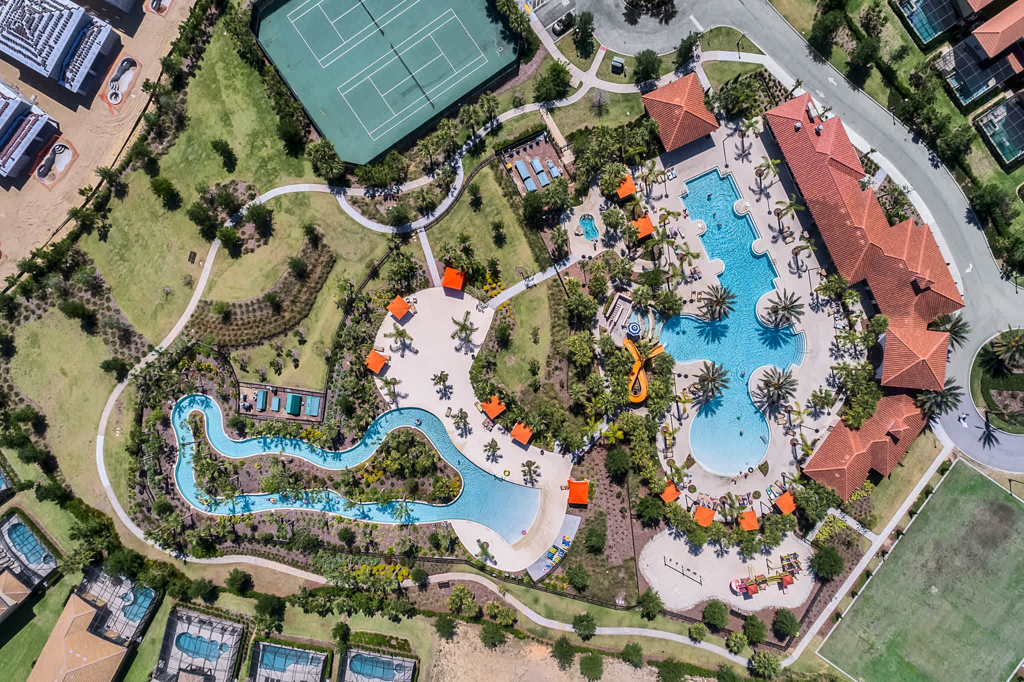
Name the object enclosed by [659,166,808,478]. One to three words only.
swimming pool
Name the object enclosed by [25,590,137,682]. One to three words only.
house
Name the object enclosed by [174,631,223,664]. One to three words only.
swimming pool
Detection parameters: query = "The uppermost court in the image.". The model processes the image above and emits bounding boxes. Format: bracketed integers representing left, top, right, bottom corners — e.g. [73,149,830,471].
[258,0,519,164]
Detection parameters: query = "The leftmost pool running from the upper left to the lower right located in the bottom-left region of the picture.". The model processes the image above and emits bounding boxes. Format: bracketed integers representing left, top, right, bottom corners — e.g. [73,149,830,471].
[6,522,46,566]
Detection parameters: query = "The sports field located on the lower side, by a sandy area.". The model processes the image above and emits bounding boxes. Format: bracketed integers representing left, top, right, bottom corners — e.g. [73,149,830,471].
[817,461,1024,682]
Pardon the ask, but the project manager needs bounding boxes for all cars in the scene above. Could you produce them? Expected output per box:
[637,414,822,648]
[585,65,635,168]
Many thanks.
[551,11,576,37]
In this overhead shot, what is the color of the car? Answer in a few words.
black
